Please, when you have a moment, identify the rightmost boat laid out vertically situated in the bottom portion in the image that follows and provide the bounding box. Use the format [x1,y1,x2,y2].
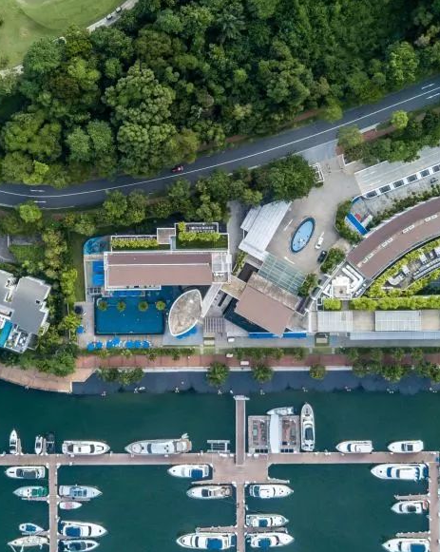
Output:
[301,403,315,453]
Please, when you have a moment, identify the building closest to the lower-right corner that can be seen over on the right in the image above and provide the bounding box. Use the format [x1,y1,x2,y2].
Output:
[248,413,300,454]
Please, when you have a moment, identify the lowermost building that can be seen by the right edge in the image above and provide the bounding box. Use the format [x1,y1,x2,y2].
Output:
[310,310,440,339]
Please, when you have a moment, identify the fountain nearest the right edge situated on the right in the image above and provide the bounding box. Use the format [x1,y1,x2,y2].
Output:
[291,218,315,251]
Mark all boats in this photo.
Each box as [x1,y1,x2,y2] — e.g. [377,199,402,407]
[246,532,294,549]
[13,486,49,499]
[392,501,429,515]
[372,464,429,483]
[246,514,290,531]
[60,440,108,455]
[169,465,211,479]
[8,537,50,552]
[58,501,81,510]
[301,403,315,453]
[58,521,107,540]
[5,466,48,480]
[187,485,234,500]
[17,524,43,534]
[388,440,424,453]
[176,533,237,552]
[35,433,42,454]
[126,439,194,457]
[337,439,374,454]
[46,431,55,454]
[267,407,296,416]
[58,485,103,499]
[247,484,294,500]
[9,429,18,454]
[384,537,429,552]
